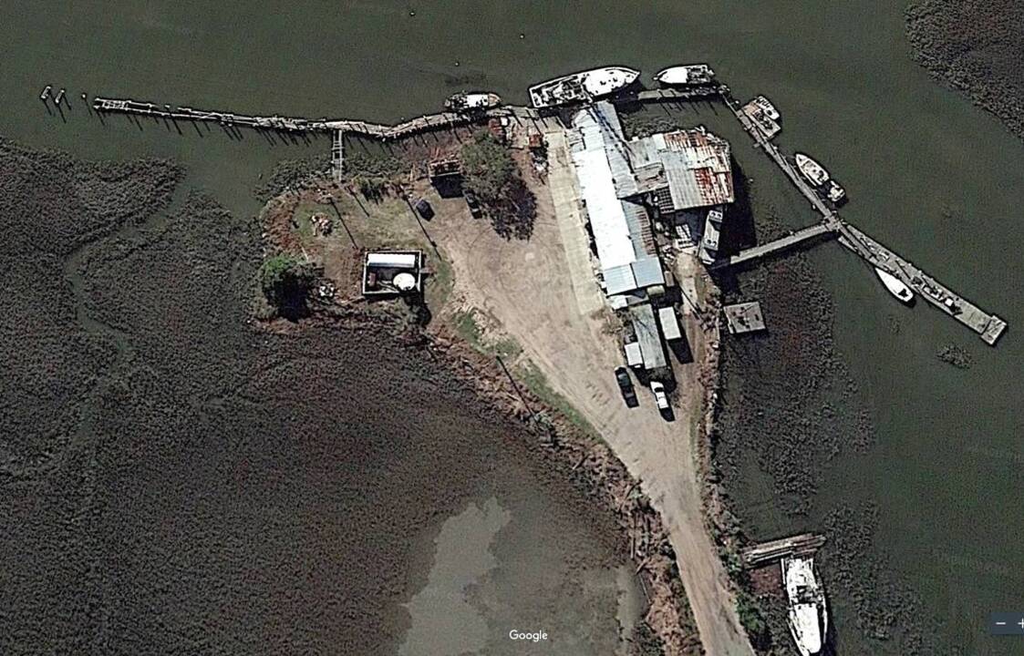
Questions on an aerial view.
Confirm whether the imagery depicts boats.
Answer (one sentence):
Yes, I can see a boat in this picture.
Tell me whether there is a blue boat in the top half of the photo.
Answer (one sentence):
No, I can find no blue boat in the top half of the photo.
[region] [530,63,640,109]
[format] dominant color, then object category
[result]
white boat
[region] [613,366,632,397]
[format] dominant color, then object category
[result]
black vehicle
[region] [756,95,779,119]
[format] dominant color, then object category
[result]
white boat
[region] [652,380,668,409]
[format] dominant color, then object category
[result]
white vehicle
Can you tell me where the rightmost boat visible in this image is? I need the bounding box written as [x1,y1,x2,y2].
[875,266,913,304]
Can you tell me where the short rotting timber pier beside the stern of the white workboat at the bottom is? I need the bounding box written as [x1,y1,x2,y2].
[745,532,825,584]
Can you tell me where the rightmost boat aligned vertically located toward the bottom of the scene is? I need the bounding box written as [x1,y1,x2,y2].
[787,557,825,656]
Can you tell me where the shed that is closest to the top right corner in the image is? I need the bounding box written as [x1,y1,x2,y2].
[629,127,734,211]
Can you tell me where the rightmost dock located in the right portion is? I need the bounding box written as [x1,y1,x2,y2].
[981,315,1006,345]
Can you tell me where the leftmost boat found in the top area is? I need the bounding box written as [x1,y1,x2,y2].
[445,92,501,110]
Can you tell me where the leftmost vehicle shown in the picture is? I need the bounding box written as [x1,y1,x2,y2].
[416,196,432,218]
